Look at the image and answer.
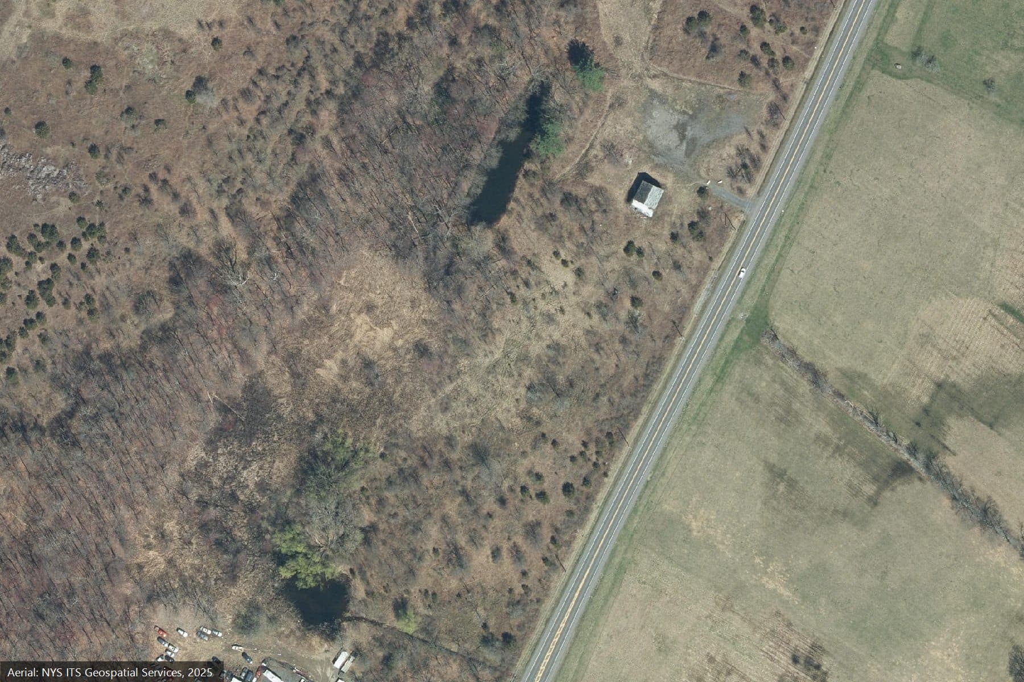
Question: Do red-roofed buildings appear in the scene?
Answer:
No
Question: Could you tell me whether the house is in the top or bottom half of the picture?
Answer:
top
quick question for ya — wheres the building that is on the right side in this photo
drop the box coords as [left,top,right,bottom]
[630,179,661,215]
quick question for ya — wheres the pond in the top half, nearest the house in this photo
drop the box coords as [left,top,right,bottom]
[466,73,553,226]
